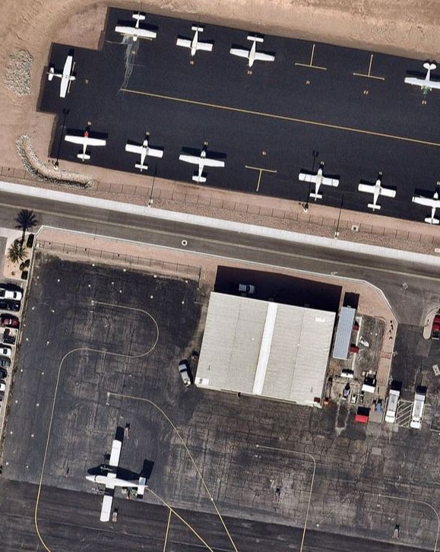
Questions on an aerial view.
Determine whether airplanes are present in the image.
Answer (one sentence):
Yes, there's an airplane here.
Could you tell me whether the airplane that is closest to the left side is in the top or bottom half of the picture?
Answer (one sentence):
Seen from above, the airplane that is closest to the left side lies in the top half of the view.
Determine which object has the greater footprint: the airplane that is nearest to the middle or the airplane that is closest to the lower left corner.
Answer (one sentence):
The airplane that is closest to the lower left corner is larger than the airplane that is nearest to the middle.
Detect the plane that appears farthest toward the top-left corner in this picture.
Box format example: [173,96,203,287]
[48,55,79,97]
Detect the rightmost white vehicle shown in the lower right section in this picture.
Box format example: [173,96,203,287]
[411,393,425,430]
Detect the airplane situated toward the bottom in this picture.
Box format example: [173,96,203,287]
[88,437,148,519]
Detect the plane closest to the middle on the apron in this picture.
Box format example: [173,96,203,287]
[180,150,224,182]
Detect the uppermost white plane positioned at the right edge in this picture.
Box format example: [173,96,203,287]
[404,61,440,95]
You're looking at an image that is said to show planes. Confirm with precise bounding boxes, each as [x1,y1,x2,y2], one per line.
[88,437,148,519]
[230,32,275,66]
[175,25,214,55]
[404,61,440,95]
[124,137,163,171]
[412,191,440,223]
[358,177,397,209]
[65,130,107,161]
[298,167,339,200]
[114,13,156,42]
[48,55,79,97]
[180,150,224,182]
